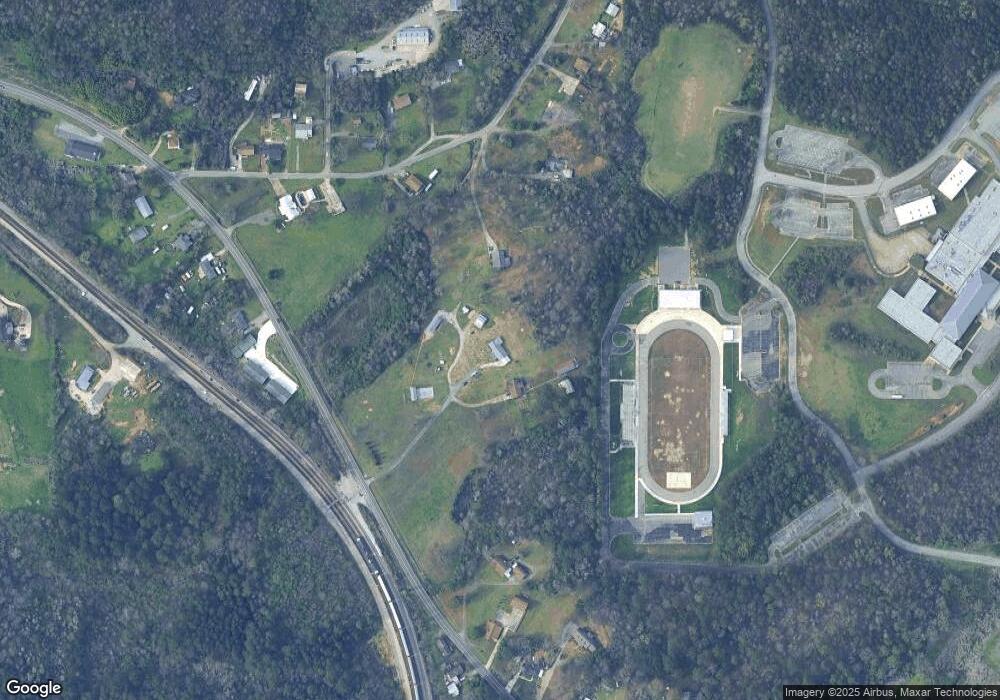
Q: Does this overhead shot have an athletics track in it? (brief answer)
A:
Yes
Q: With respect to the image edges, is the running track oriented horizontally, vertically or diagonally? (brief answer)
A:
vertically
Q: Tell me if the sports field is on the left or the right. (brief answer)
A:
right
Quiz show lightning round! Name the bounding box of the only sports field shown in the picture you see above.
[648,329,711,491]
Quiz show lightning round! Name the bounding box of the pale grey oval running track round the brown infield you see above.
[639,319,721,501]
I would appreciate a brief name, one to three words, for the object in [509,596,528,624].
house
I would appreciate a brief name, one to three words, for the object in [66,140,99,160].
building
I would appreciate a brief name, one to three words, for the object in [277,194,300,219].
house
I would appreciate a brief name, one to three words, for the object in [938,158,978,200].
building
